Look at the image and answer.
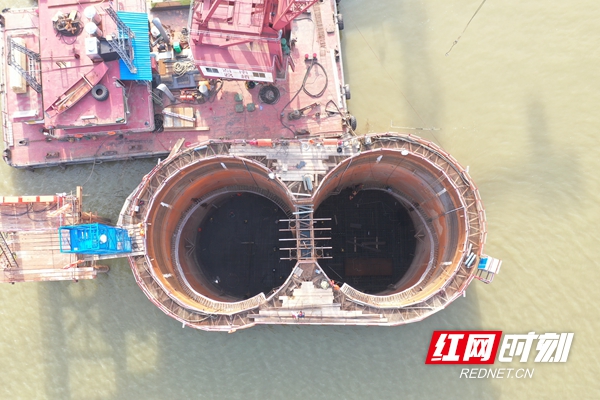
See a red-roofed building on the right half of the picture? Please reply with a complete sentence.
No, I see no red-roofed building on the right half of the picture.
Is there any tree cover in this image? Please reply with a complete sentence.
No, tree cover can't be seen anywhere here.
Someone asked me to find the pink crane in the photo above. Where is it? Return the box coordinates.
[188,0,314,85]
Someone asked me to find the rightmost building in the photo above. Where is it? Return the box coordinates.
[473,257,500,286]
